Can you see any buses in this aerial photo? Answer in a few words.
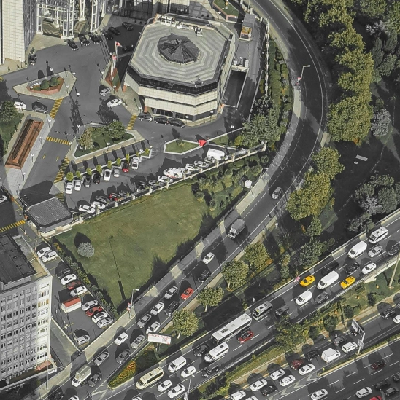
Yes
